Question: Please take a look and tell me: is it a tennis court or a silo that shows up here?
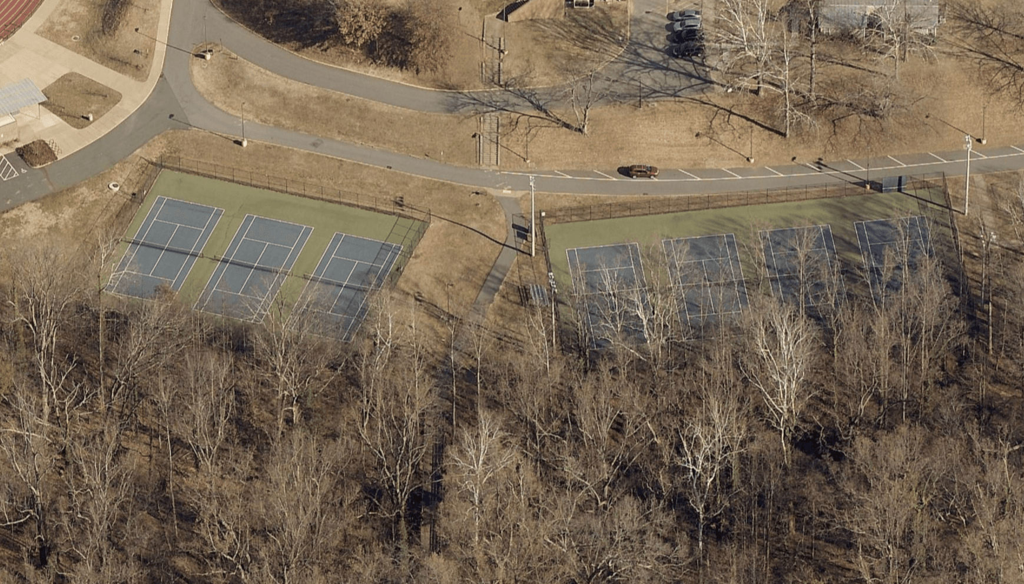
tennis court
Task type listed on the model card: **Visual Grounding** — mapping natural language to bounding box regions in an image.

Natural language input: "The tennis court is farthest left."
[86,169,427,363]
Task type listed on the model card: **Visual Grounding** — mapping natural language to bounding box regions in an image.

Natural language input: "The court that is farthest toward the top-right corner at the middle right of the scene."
[543,187,981,372]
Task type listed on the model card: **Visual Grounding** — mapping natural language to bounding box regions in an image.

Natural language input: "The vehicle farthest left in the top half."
[627,167,659,181]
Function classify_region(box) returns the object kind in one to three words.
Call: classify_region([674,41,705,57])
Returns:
car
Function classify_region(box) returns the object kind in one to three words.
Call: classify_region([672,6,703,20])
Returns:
car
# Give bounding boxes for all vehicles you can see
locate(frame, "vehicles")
[674,41,705,57]
[672,6,703,20]
[627,167,659,181]
[674,30,705,44]
[673,17,704,32]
